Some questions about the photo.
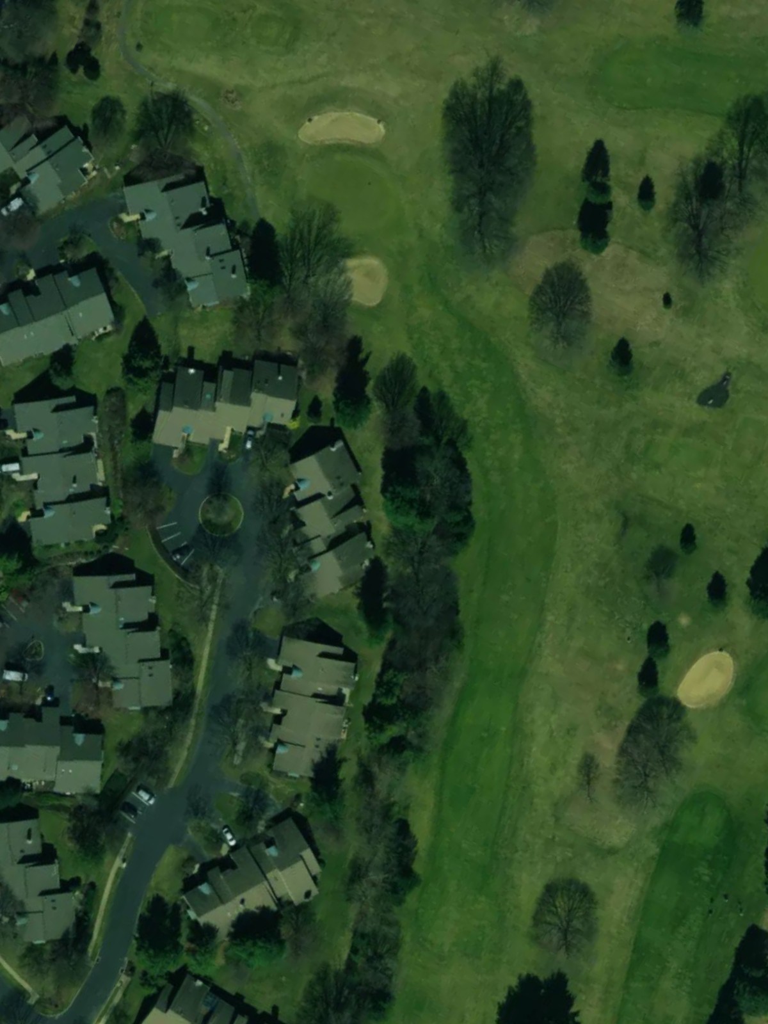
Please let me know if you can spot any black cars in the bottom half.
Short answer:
Yes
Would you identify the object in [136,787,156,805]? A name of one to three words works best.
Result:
car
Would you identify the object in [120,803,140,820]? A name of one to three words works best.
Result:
car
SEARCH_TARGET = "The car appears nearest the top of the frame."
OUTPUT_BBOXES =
[1,196,22,215]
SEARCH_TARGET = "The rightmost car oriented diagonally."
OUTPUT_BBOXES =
[221,825,238,847]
